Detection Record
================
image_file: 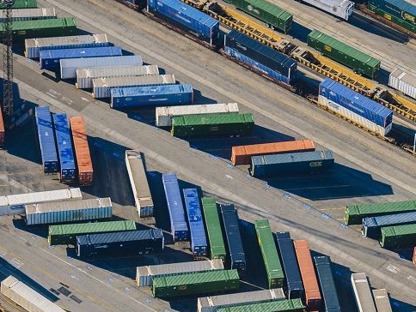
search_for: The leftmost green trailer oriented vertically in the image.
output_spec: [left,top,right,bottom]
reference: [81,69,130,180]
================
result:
[201,196,227,268]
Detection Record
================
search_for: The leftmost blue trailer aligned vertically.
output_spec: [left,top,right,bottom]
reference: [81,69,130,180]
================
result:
[35,106,58,175]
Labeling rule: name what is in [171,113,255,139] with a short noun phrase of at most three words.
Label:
trailer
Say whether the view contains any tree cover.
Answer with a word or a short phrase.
No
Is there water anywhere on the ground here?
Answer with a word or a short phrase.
No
